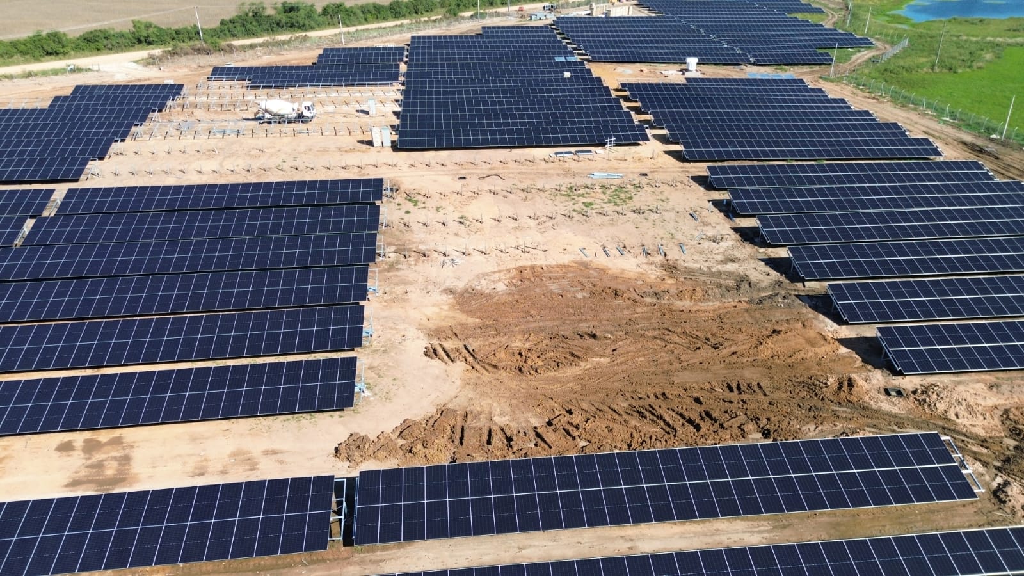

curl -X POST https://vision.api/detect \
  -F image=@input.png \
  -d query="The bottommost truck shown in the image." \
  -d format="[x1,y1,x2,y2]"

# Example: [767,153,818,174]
[253,98,317,123]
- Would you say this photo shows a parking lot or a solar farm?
solar farm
